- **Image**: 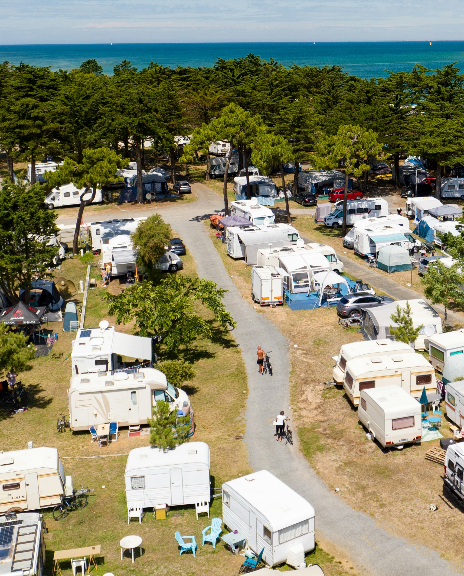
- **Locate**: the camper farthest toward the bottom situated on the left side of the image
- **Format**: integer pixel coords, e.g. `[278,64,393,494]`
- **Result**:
[0,515,54,576]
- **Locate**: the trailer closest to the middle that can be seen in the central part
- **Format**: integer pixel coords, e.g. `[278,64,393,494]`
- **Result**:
[251,268,283,307]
